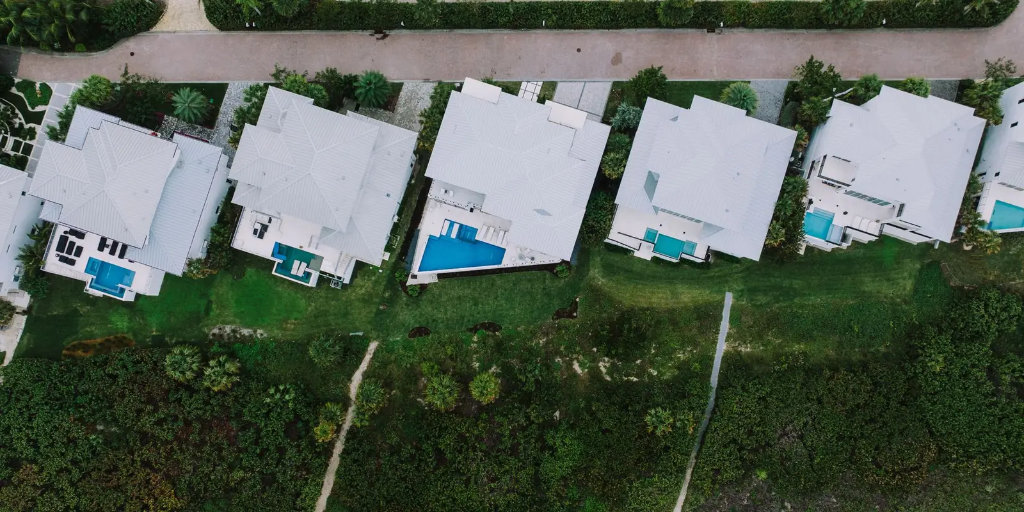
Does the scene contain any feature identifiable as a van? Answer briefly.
No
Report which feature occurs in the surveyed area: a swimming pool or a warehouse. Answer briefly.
swimming pool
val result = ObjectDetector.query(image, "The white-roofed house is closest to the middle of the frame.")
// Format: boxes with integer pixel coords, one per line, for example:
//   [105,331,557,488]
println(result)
[424,77,610,262]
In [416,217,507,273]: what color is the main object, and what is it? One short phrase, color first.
blue swimming pool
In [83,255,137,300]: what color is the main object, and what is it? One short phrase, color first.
blue swimming pool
